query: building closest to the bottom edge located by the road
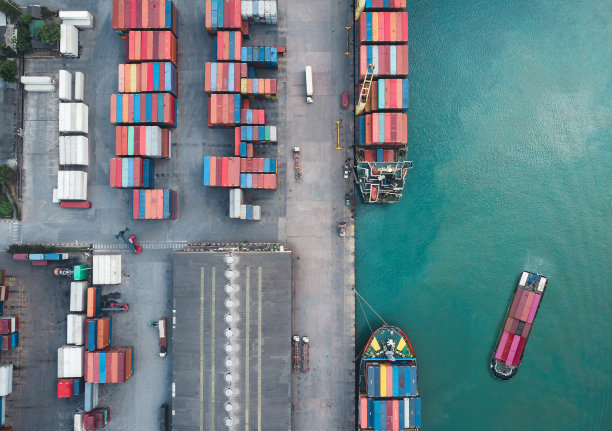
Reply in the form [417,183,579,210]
[170,249,292,431]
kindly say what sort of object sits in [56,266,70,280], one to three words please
vehicle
